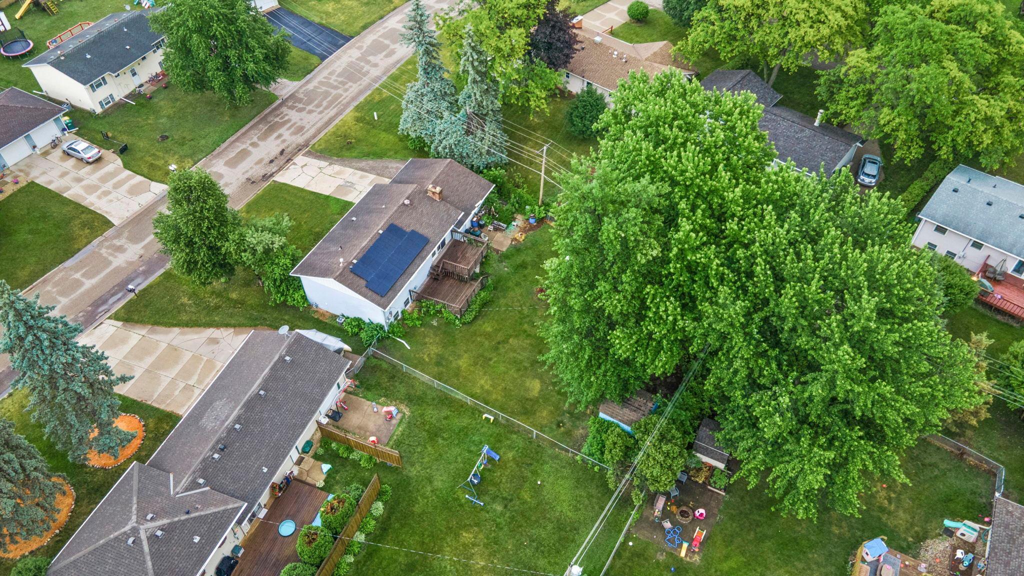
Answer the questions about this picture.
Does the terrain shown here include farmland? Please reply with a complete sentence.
No, no farmland is visible.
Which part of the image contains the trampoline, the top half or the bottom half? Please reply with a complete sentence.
The trampoline is in the top half of the image.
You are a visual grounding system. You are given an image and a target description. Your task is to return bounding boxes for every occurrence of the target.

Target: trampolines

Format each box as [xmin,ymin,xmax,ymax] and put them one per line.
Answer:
[0,28,35,61]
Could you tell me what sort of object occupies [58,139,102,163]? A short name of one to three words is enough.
car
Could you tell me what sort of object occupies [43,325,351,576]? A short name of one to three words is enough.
house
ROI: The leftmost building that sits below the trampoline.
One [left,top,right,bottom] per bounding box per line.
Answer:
[0,85,88,171]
